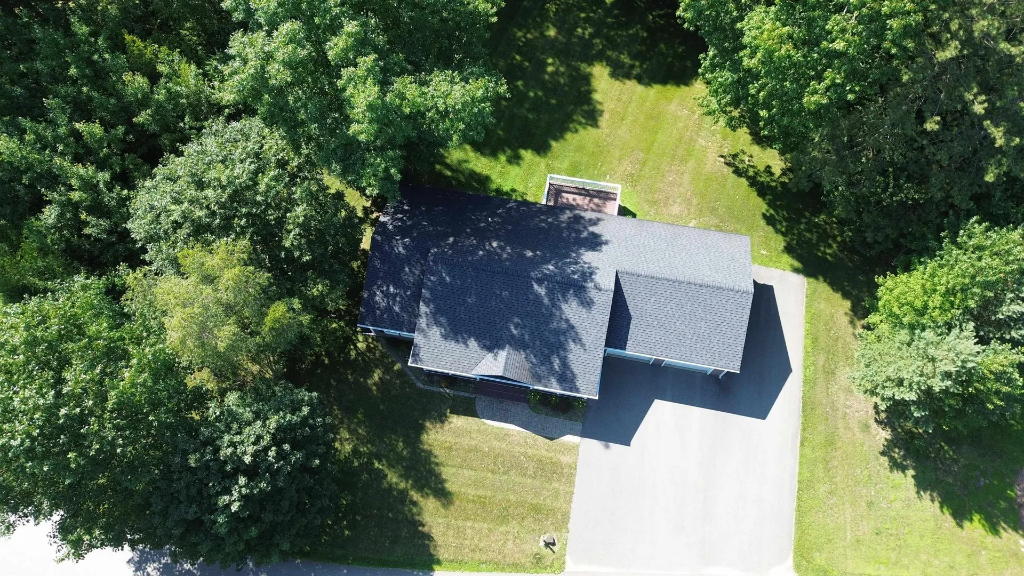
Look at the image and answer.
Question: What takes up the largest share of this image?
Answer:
trees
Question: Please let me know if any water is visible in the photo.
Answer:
No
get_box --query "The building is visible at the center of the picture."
[358,182,754,403]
